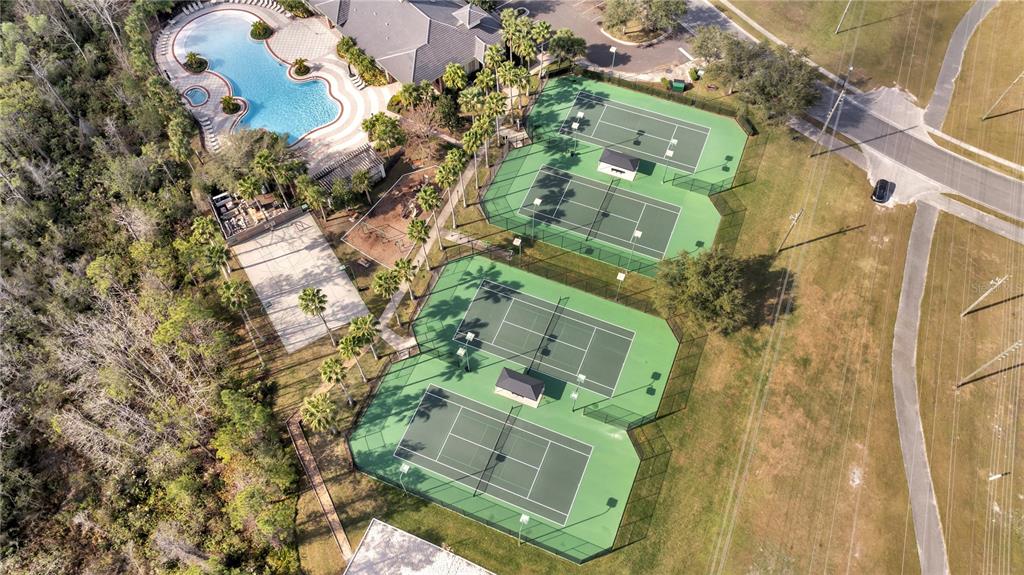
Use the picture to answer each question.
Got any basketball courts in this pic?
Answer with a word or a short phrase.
Yes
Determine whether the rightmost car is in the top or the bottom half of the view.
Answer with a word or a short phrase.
top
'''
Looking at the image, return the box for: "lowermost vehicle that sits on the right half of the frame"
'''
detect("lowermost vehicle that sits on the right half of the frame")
[871,175,894,202]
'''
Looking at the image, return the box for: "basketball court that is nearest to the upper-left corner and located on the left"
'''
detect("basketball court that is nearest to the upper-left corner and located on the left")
[232,213,370,353]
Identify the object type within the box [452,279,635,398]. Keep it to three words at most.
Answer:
tennis court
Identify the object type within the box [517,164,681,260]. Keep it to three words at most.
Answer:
tennis court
